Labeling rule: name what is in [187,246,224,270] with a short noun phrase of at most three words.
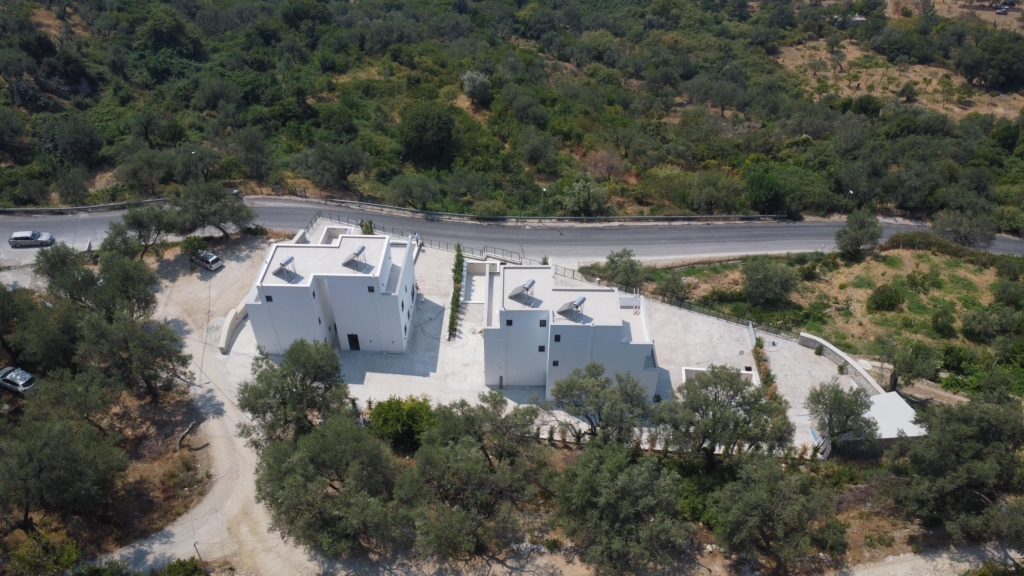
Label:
car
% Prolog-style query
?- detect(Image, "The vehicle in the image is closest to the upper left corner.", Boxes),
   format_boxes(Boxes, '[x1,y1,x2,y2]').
[8,228,56,247]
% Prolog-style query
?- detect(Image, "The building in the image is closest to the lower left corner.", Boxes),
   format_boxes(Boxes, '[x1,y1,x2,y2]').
[245,234,419,360]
